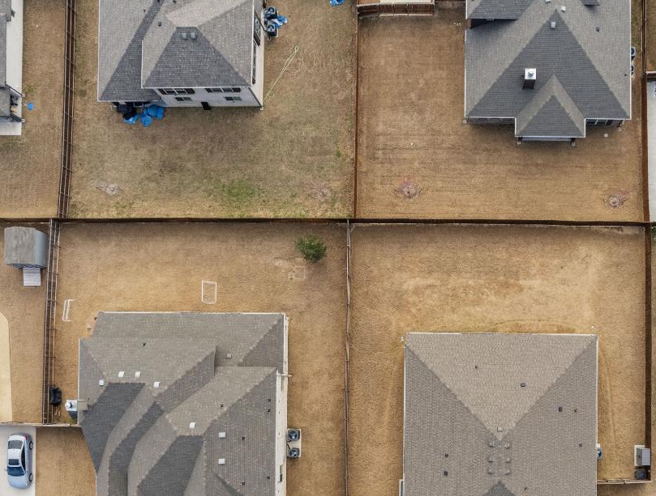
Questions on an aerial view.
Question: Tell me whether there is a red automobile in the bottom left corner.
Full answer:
No, looking in the bottom left corner, there is no red automobile.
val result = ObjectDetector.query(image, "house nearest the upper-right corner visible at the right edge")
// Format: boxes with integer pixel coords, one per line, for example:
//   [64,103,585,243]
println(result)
[463,0,632,145]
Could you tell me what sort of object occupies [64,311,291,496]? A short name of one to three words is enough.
house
